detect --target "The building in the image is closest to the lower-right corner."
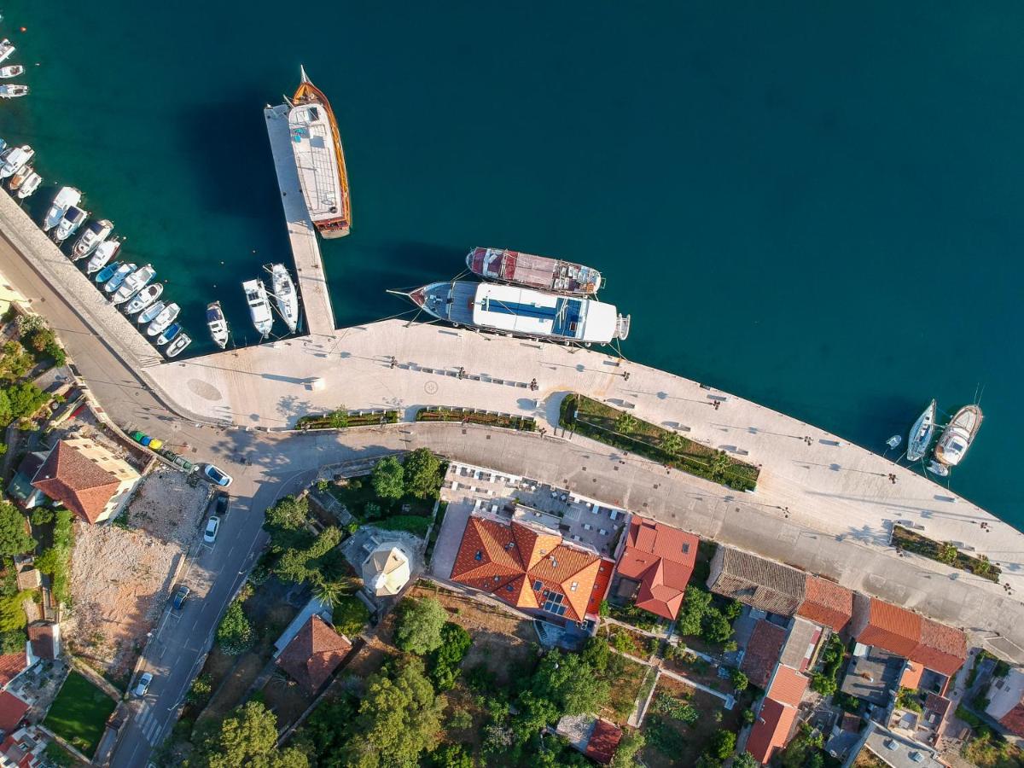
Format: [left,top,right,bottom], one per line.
[974,664,1024,738]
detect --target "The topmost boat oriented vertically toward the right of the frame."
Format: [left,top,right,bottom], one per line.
[619,313,634,341]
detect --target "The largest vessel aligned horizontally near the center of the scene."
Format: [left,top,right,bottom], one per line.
[368,281,629,355]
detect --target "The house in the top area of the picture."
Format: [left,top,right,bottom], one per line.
[0,272,28,329]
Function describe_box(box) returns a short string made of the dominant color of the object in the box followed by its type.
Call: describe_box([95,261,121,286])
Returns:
blue boat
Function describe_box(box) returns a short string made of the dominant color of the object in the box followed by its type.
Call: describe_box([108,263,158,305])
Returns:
white boat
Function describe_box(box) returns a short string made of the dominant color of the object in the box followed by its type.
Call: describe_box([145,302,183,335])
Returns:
white boat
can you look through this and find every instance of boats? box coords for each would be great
[95,261,121,286]
[138,300,166,327]
[262,263,299,339]
[204,300,230,351]
[933,382,988,486]
[157,321,184,345]
[104,262,138,294]
[0,83,32,98]
[273,66,351,264]
[619,313,634,341]
[122,281,165,316]
[883,434,902,457]
[85,239,120,274]
[458,247,606,300]
[54,205,89,247]
[40,186,80,236]
[167,333,194,356]
[17,171,45,203]
[108,263,158,305]
[145,302,183,335]
[0,143,37,186]
[0,66,27,80]
[898,397,970,477]
[70,220,114,260]
[0,42,18,64]
[9,166,34,188]
[241,279,270,342]
[928,463,953,476]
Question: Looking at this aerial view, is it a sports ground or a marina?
marina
